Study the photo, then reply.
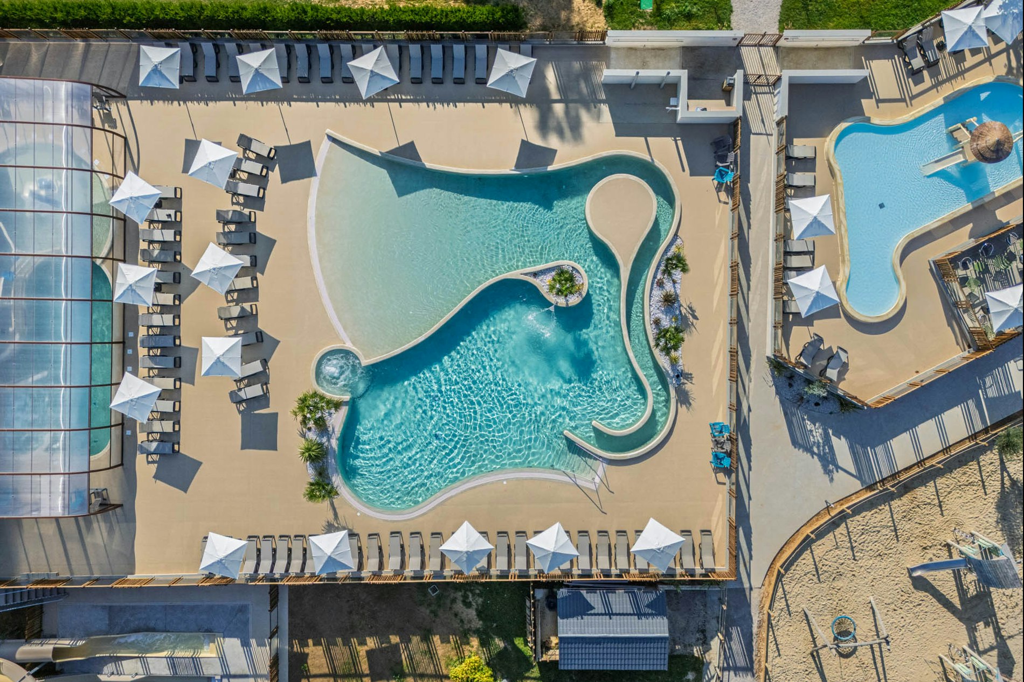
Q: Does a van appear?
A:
No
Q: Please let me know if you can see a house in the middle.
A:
No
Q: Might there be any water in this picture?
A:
Yes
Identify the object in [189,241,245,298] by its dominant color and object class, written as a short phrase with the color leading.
white umbrella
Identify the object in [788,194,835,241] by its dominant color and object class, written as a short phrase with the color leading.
white umbrella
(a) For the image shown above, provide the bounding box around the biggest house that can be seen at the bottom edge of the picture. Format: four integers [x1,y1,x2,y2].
[558,583,671,671]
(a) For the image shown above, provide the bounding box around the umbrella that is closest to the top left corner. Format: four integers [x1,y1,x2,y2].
[138,45,185,90]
